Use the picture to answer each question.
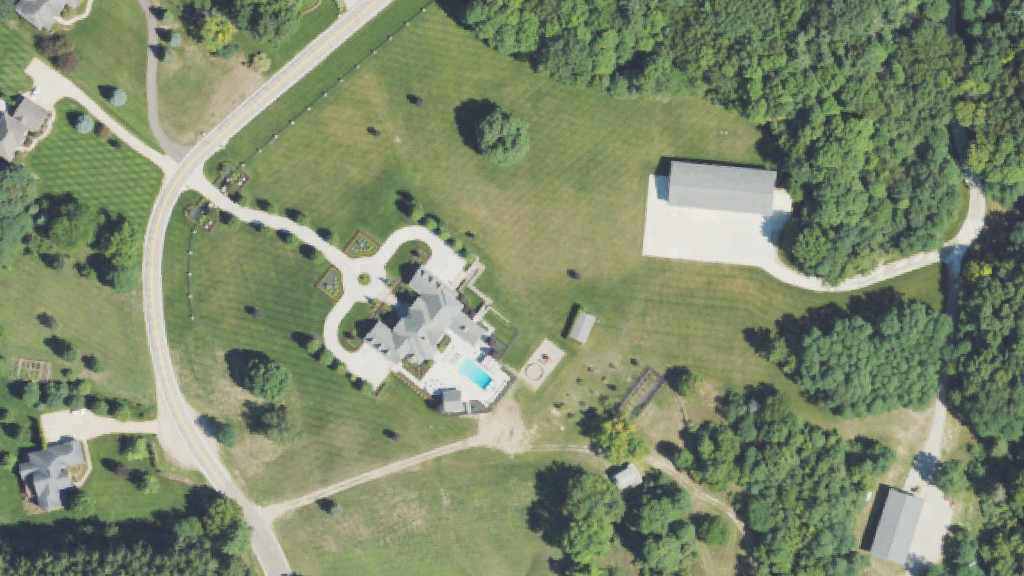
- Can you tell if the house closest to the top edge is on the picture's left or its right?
left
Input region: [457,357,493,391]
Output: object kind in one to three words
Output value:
swimming pool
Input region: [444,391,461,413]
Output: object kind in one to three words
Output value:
building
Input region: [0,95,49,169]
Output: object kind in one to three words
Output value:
house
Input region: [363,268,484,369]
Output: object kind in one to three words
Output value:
house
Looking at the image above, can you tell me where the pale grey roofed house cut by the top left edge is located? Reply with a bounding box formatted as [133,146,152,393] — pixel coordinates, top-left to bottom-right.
[10,0,82,35]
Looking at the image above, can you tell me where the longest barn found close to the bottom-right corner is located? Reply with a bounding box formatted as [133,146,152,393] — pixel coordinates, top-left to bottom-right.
[871,490,924,565]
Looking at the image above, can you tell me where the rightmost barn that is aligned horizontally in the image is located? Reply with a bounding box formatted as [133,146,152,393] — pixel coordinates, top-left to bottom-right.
[668,161,778,214]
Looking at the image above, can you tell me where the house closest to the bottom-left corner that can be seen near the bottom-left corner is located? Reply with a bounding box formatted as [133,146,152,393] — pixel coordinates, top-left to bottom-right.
[18,441,85,510]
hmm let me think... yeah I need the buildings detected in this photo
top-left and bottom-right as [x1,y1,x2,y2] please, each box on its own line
[363,268,484,369]
[668,161,778,214]
[18,441,85,510]
[615,464,642,489]
[0,95,49,169]
[10,0,82,35]
[444,391,461,413]
[871,490,924,565]
[570,312,596,344]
